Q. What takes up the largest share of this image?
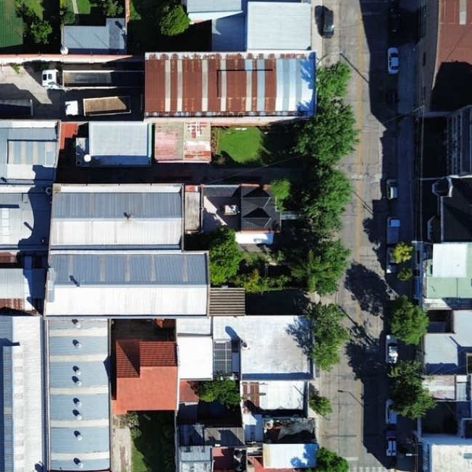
buildings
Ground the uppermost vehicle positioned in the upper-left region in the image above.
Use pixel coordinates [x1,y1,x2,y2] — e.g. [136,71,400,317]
[44,69,143,88]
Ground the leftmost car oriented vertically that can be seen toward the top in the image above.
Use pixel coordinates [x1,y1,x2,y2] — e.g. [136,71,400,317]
[321,7,335,36]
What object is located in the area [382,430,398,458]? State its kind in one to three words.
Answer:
car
